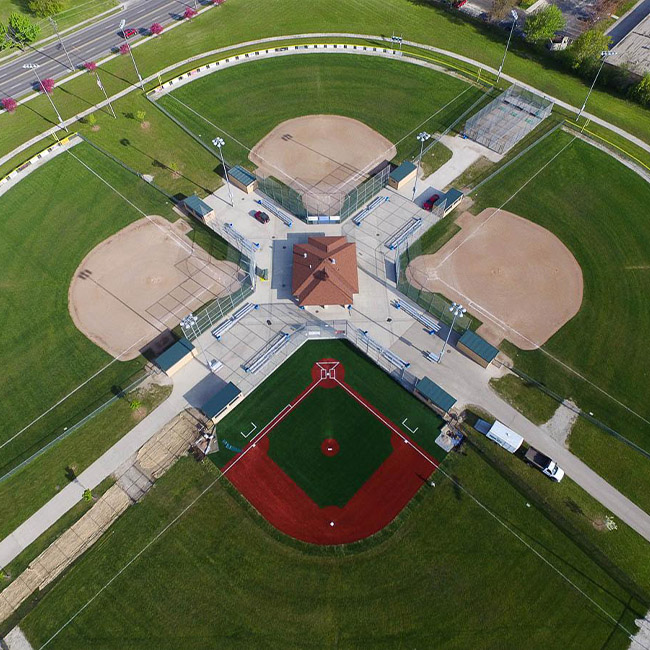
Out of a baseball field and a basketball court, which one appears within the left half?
baseball field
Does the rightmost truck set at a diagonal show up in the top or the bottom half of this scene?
bottom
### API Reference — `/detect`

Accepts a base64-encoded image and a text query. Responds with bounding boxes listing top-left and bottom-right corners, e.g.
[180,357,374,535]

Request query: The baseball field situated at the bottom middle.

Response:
[20,339,649,650]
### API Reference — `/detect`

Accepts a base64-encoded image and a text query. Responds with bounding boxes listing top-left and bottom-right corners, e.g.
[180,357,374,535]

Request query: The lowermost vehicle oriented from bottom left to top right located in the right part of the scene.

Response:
[421,192,442,213]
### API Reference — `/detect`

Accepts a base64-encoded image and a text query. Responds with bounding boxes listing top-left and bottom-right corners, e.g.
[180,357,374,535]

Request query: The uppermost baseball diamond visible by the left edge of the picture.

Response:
[0,137,256,483]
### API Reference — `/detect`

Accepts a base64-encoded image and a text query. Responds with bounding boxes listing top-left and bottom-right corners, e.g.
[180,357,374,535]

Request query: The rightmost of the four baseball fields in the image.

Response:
[395,120,650,456]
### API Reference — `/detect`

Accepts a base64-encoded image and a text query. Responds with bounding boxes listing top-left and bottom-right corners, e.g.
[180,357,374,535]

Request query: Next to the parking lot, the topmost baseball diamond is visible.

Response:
[145,47,491,224]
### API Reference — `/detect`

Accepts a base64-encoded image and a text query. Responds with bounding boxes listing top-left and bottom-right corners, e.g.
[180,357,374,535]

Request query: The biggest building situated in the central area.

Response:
[292,235,360,314]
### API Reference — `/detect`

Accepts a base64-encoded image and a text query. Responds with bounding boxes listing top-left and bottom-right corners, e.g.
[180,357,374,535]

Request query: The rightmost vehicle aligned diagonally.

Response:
[522,446,567,484]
